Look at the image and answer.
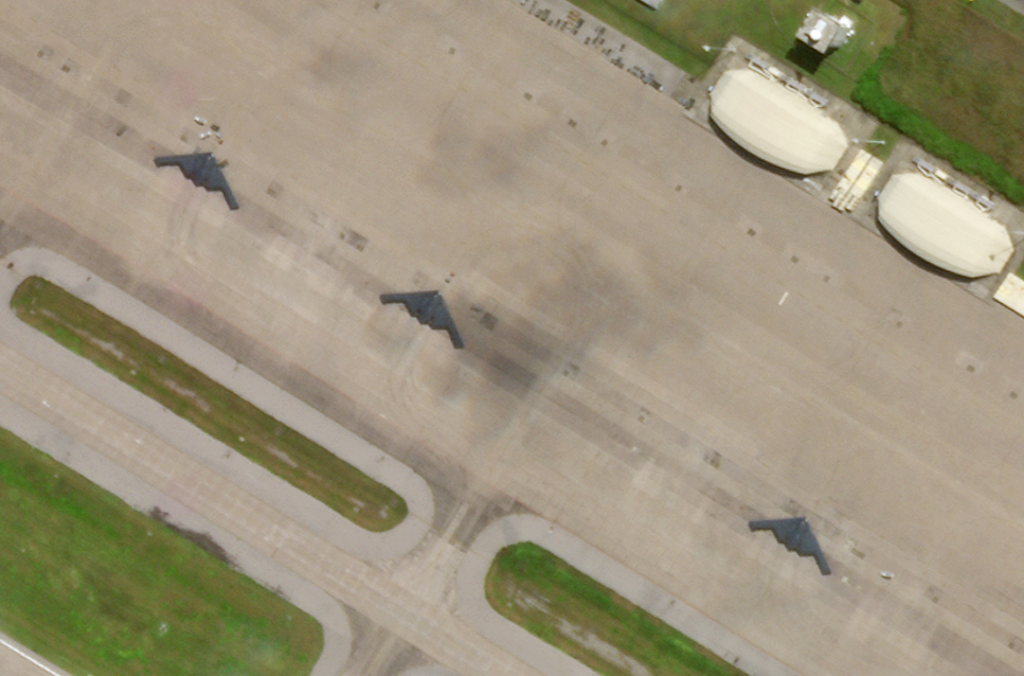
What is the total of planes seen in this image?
3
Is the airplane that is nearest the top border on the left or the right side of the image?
left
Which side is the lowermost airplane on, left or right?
right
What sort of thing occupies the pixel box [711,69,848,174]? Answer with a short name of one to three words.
hangar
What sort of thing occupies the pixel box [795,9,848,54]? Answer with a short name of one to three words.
building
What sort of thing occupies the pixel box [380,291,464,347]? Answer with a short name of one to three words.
airplane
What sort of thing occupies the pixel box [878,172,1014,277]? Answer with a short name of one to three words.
hangar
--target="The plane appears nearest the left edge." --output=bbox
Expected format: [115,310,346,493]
[154,153,239,209]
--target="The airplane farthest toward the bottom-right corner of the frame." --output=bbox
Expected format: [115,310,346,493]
[747,517,831,574]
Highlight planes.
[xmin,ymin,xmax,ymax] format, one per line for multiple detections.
[380,291,464,347]
[747,517,831,574]
[154,153,239,209]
